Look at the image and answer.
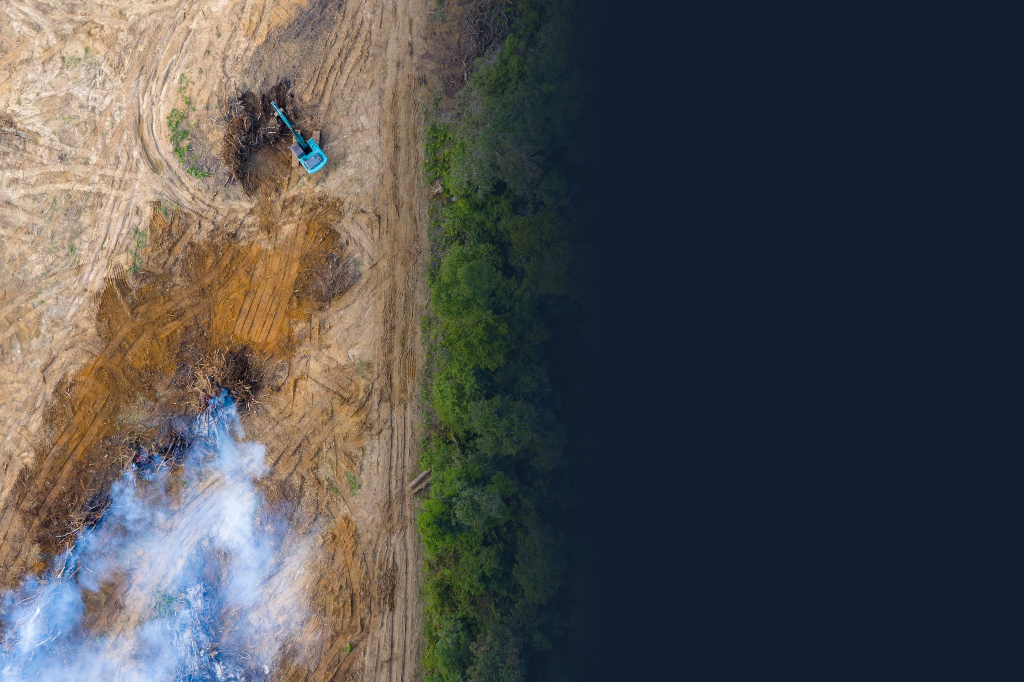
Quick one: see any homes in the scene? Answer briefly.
No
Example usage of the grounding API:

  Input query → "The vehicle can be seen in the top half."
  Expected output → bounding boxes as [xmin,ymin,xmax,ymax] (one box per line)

[265,98,330,175]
